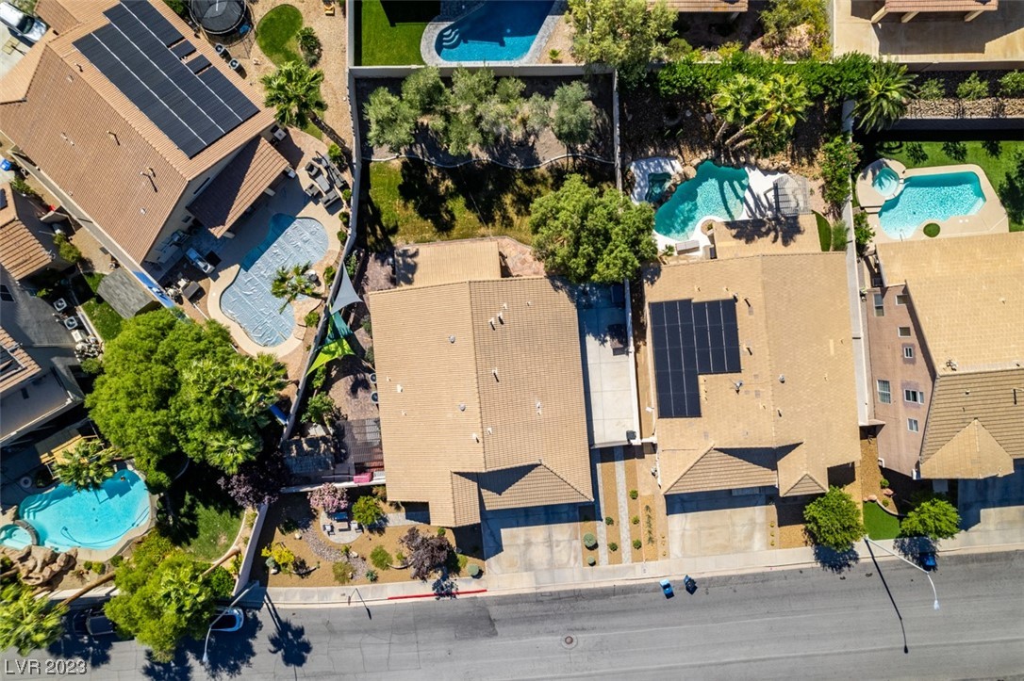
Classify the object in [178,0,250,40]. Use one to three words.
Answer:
trampoline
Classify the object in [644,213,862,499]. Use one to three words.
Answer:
house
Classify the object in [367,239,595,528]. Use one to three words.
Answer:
house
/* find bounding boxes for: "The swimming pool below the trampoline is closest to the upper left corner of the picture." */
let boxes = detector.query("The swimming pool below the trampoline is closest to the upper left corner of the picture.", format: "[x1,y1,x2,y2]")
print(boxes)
[220,213,329,347]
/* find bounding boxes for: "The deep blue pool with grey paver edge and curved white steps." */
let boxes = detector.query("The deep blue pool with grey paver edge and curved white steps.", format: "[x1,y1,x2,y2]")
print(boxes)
[429,0,578,65]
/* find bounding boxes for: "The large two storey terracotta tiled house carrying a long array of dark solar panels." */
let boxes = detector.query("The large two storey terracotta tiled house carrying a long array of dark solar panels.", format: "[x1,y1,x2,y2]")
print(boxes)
[0,0,295,264]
